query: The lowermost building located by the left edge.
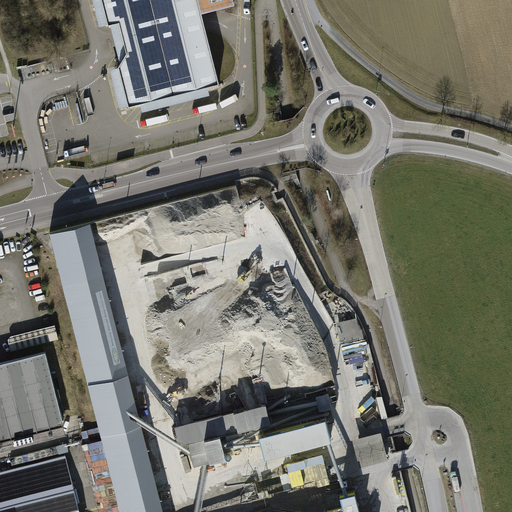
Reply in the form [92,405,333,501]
[0,456,80,512]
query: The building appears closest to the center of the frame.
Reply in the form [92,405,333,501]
[338,318,364,344]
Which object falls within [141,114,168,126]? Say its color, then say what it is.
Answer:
white vehicle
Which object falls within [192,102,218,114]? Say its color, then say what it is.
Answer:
white vehicle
